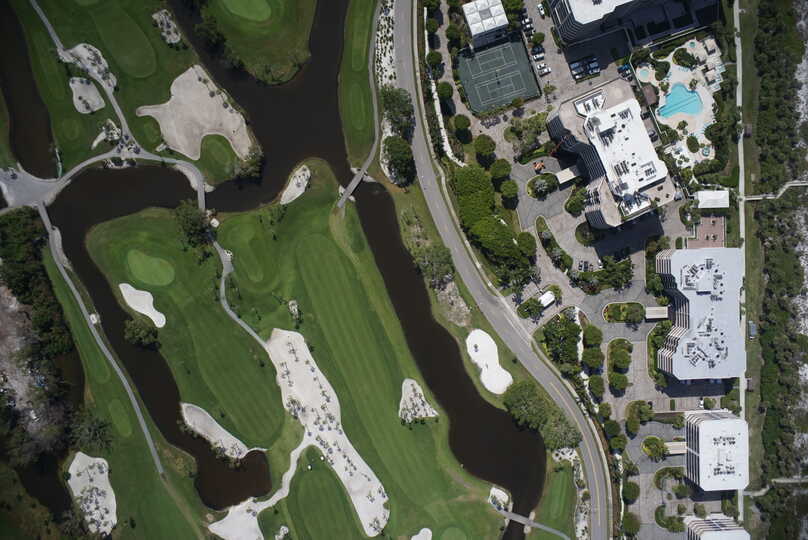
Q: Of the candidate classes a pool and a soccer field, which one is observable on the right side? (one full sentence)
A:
It is a pool that can be seen on the right side.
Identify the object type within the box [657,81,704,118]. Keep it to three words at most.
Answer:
swimming pool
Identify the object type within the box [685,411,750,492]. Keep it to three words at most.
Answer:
building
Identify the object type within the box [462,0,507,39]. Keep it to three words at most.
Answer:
building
